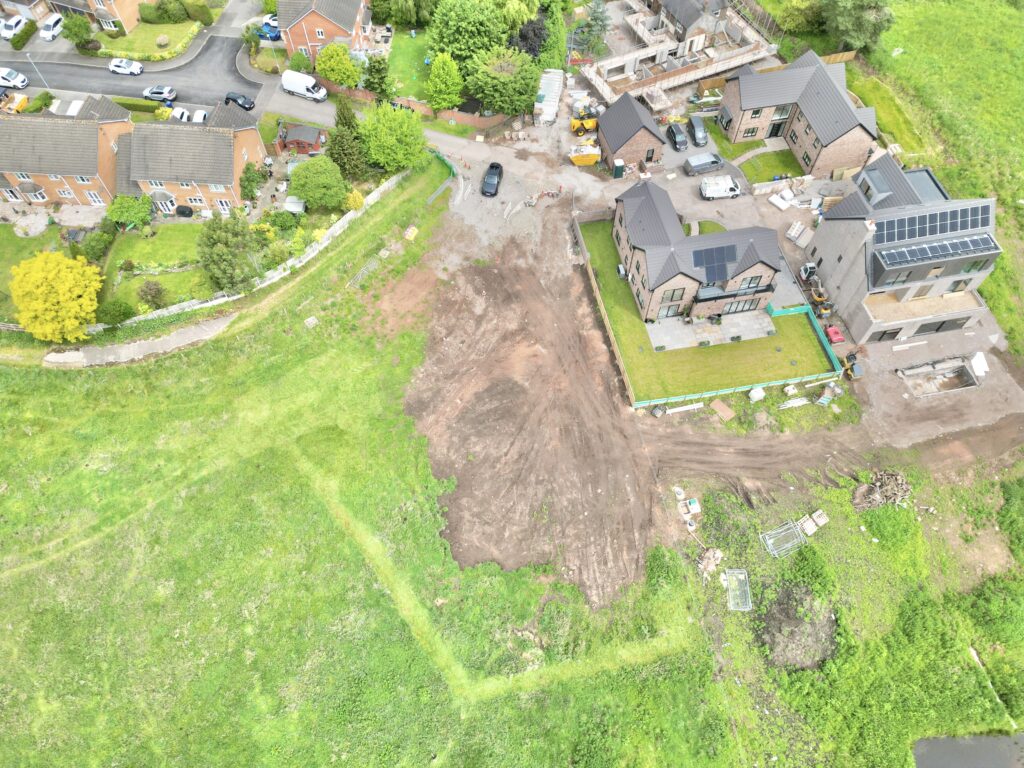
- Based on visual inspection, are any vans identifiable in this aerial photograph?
Yes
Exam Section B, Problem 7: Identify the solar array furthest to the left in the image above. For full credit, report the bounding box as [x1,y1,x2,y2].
[703,237,747,278]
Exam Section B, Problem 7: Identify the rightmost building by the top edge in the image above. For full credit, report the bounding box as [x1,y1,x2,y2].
[713,35,883,177]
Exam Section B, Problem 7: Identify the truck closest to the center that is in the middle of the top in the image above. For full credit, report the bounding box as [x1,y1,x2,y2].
[481,159,502,199]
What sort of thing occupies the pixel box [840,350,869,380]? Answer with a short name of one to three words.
truck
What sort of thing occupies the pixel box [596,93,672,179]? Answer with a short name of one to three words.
building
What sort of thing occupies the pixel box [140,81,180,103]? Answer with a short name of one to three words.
car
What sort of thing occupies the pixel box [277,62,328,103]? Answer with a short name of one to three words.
van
